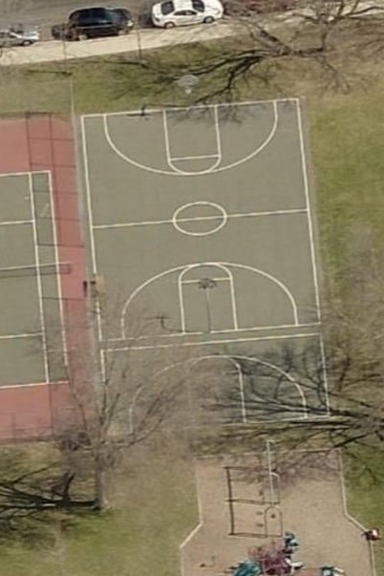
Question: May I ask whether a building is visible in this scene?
No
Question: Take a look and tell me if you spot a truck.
No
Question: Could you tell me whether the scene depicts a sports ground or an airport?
sports ground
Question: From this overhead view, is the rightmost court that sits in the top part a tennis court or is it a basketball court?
basketball court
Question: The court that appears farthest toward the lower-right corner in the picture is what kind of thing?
basketball court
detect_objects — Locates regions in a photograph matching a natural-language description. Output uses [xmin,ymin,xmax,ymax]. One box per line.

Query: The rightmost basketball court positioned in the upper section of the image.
[79,96,324,346]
